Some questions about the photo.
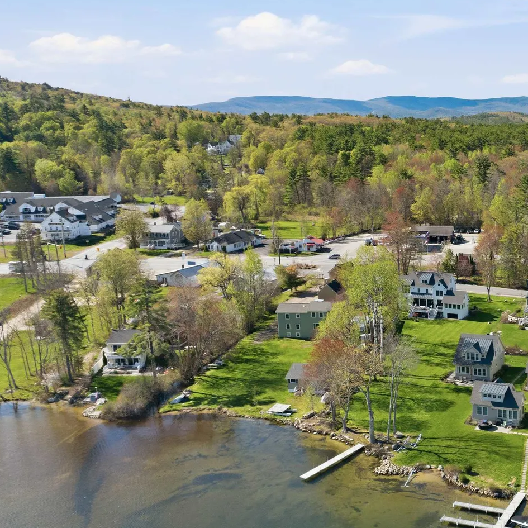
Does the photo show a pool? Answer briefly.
No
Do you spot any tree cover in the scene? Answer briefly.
Yes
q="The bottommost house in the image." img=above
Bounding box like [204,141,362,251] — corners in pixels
[470,380,528,425]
